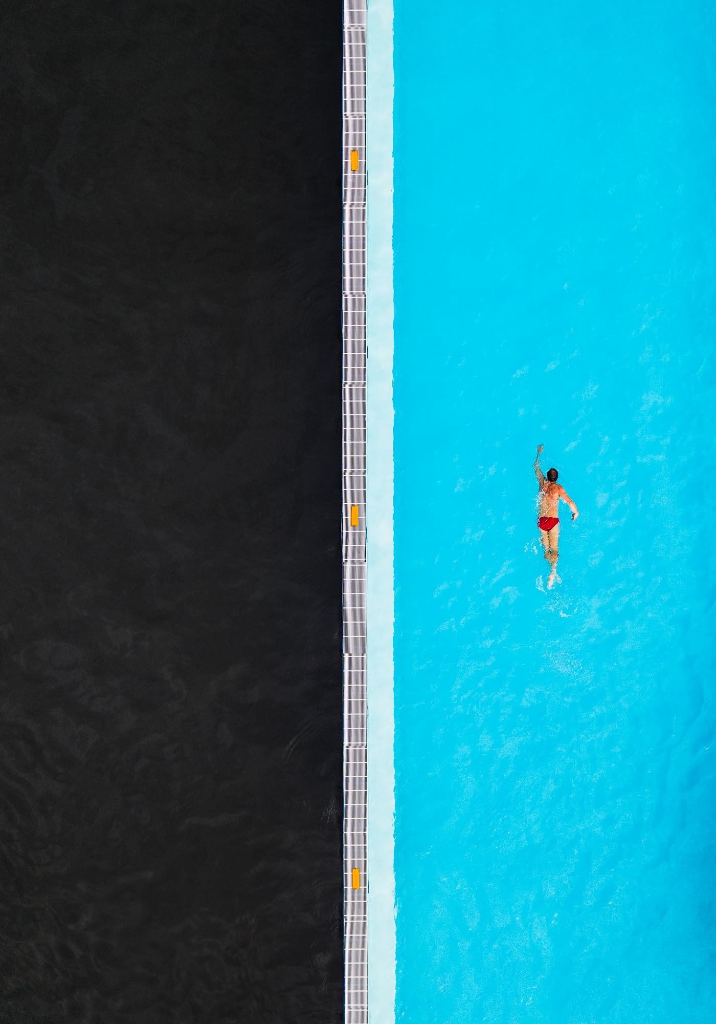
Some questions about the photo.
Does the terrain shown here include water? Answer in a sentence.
Yes, the picture does contain water.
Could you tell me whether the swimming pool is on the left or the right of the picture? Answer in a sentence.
The swimming pool is on the right side of the image.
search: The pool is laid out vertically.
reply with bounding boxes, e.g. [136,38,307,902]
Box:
[367,0,716,1024]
